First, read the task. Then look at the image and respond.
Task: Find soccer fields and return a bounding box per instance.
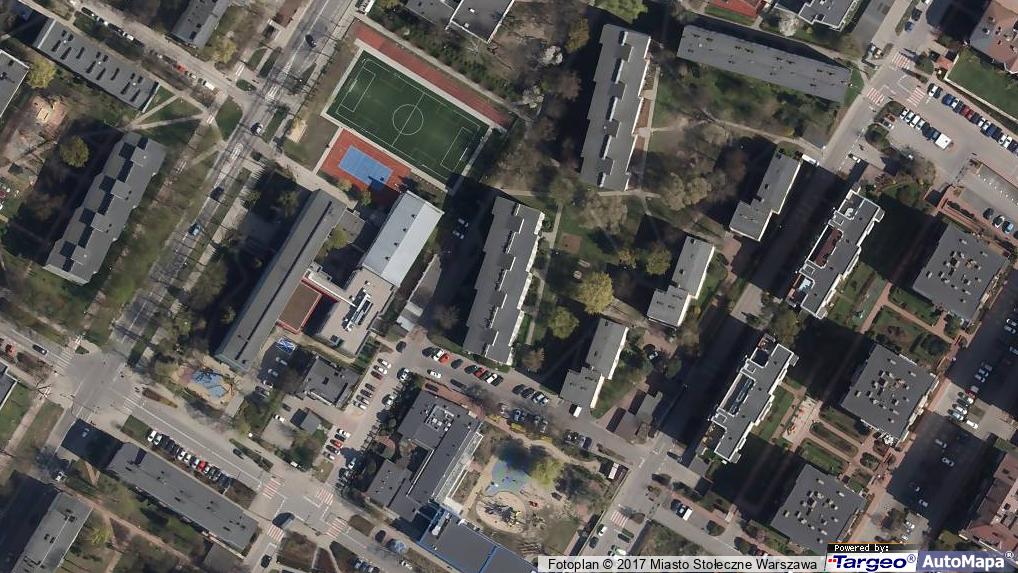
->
[316,41,500,200]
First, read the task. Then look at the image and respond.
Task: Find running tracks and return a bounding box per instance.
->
[353,22,509,126]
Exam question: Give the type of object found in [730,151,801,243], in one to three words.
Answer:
building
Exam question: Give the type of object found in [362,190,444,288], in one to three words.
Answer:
building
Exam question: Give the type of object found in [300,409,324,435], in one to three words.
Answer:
shed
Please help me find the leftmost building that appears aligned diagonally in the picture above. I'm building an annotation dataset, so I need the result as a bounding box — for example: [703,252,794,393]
[12,492,96,573]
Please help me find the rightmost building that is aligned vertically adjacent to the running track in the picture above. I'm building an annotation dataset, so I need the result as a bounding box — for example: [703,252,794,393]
[580,25,652,193]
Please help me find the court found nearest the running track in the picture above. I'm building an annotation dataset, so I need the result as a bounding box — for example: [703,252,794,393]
[314,126,410,214]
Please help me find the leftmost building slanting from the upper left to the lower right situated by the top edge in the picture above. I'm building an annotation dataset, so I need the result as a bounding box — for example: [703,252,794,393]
[35,17,160,111]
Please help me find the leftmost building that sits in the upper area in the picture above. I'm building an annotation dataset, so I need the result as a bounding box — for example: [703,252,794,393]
[0,51,31,116]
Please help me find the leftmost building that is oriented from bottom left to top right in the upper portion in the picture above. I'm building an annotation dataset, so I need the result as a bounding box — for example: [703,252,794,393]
[48,132,170,284]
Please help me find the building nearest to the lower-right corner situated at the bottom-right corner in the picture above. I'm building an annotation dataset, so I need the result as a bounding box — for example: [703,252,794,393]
[957,444,1018,571]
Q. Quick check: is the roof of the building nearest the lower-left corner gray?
Yes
